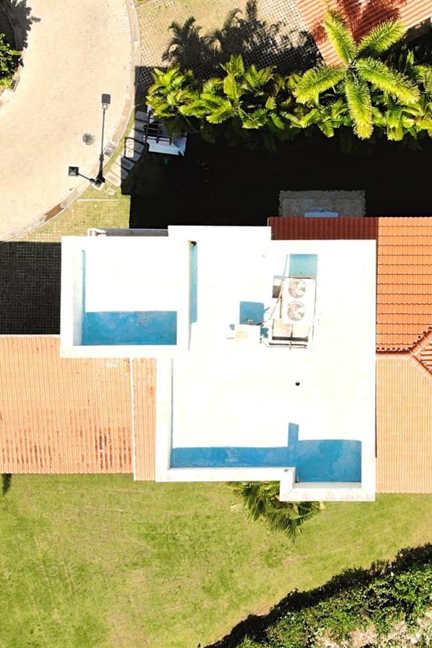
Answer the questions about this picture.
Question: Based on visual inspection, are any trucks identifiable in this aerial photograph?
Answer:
No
